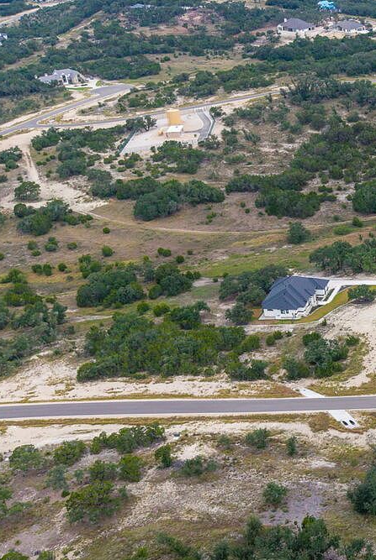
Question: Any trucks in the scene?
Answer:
No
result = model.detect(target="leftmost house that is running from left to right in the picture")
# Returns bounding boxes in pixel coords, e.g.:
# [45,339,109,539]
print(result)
[46,69,91,85]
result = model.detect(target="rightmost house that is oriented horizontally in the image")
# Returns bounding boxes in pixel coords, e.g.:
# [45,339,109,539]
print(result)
[332,20,371,34]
